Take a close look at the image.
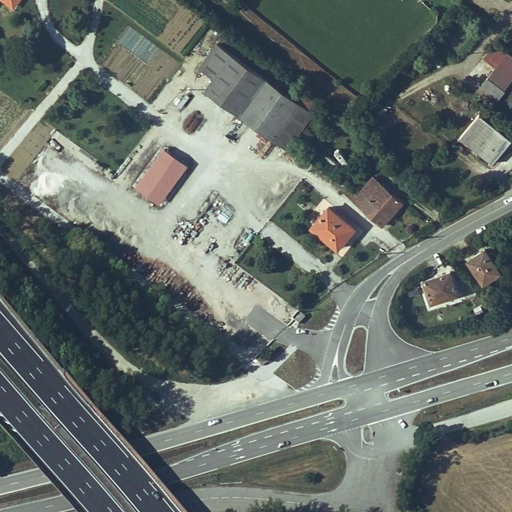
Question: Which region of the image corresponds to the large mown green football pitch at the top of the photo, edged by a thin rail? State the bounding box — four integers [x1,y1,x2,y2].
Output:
[252,0,436,95]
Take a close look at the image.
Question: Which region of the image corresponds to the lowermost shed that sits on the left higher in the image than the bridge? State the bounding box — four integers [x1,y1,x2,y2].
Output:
[134,149,188,206]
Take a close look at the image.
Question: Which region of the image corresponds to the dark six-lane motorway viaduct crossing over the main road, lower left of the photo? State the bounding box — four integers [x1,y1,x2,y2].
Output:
[0,295,182,512]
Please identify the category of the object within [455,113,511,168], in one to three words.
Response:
shed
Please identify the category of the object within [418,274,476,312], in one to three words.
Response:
house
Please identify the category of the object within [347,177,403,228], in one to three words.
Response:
house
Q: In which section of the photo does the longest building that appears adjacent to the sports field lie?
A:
top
